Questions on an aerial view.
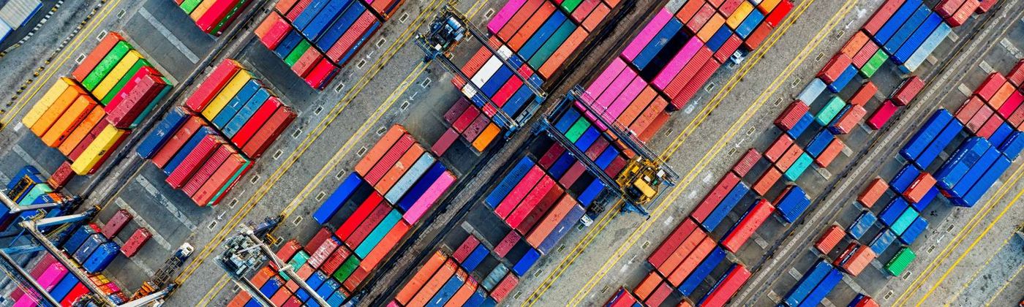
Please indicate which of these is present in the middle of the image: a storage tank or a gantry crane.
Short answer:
gantry crane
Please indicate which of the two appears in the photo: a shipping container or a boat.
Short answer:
shipping container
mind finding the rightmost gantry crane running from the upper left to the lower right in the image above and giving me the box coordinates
[539,86,680,218]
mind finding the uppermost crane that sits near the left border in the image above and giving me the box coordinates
[0,174,85,240]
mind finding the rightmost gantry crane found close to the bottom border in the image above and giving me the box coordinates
[210,210,374,307]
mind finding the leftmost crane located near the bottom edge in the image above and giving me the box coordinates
[0,207,180,307]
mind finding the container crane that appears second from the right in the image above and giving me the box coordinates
[413,0,550,139]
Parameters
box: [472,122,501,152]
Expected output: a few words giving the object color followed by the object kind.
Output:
orange shipping container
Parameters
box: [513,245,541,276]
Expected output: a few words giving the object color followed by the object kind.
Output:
blue shipping container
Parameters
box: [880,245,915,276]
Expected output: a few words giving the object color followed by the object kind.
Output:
green shipping container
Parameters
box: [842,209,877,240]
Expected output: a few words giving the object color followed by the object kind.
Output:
blue shipping container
